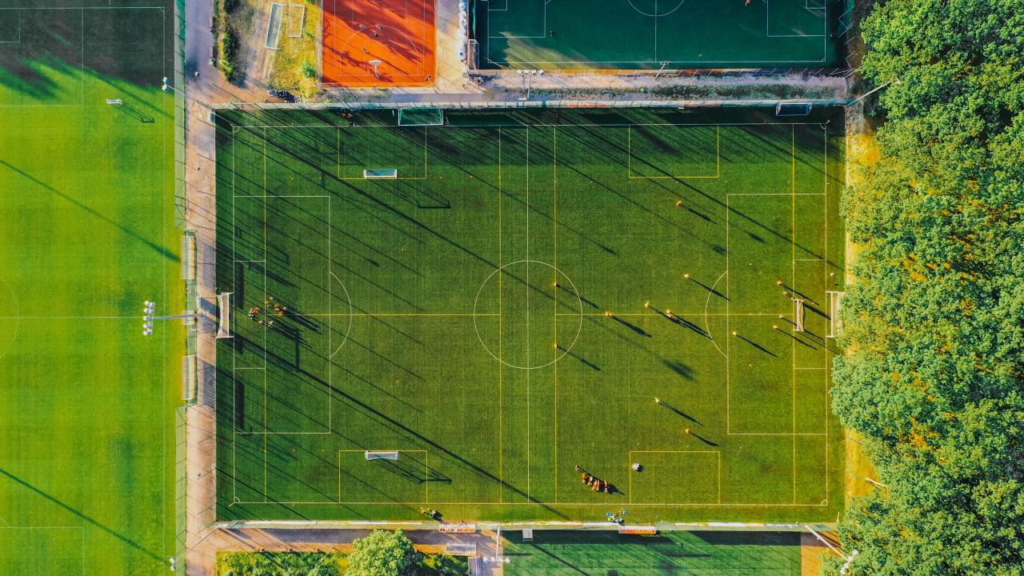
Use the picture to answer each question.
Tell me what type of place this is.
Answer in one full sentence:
It's a sports ground.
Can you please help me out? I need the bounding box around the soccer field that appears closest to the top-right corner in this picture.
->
[477,0,842,70]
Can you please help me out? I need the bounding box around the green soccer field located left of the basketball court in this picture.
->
[0,0,196,576]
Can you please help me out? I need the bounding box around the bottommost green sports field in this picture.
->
[504,528,801,576]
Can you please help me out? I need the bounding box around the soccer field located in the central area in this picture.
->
[216,106,845,522]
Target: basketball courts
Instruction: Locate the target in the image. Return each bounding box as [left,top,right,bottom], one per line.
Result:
[322,0,436,87]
